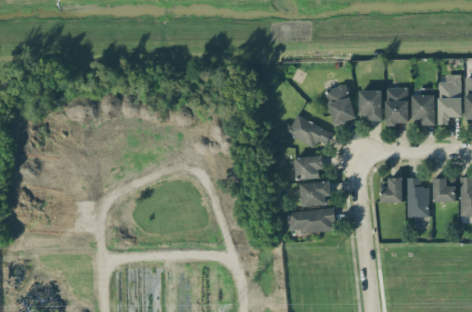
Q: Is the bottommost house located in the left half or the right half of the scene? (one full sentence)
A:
The bottommost house sits on the right side.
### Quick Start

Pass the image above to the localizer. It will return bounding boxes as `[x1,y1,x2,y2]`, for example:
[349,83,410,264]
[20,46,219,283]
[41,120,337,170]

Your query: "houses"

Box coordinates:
[438,76,462,124]
[412,95,436,126]
[380,178,402,202]
[292,114,334,152]
[358,91,382,122]
[433,178,456,202]
[386,88,409,126]
[288,210,335,234]
[294,156,324,180]
[408,178,430,218]
[324,84,357,127]
[300,182,330,208]
[460,178,472,218]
